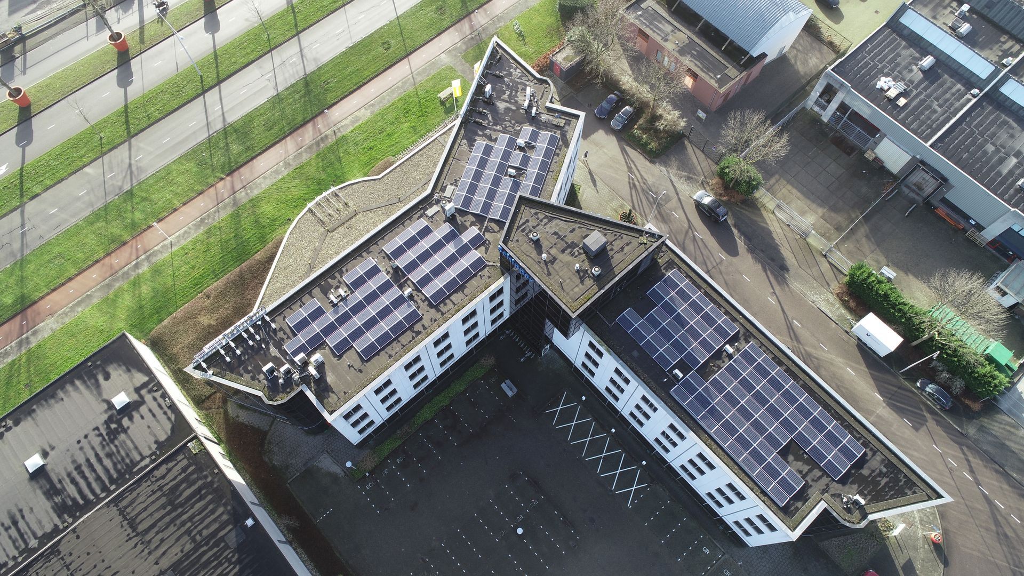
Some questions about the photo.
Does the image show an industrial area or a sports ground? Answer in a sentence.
This image shows an industrial area.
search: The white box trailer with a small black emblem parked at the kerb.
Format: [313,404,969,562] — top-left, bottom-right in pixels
[845,312,904,358]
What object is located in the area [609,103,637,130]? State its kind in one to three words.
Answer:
car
